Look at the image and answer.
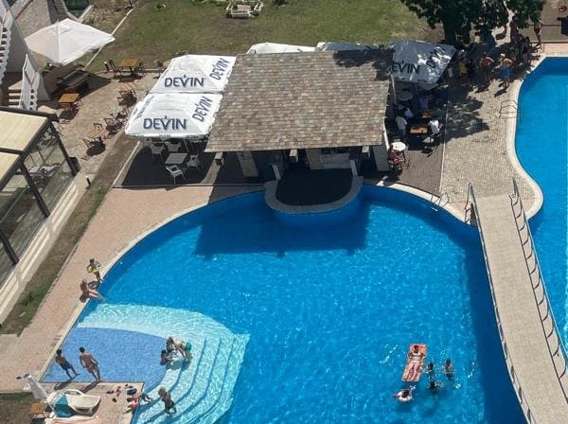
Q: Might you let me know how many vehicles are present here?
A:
0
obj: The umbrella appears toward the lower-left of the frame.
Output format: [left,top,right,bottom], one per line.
[1,364,57,417]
